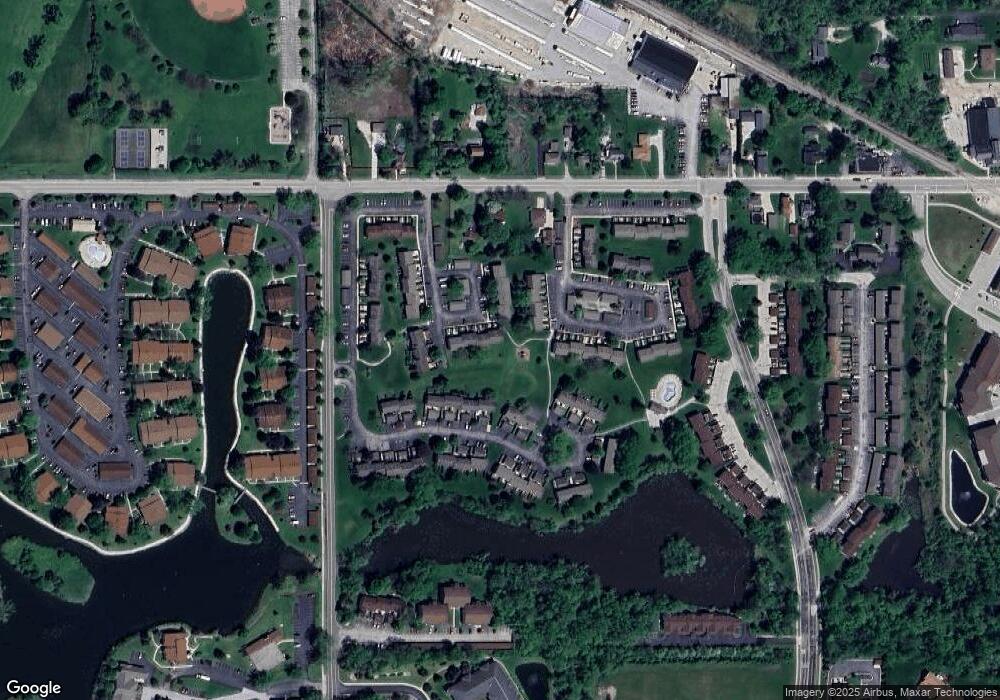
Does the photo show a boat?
No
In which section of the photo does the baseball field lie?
top left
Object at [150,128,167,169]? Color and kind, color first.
white basketball court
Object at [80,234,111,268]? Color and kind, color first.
white swimming pool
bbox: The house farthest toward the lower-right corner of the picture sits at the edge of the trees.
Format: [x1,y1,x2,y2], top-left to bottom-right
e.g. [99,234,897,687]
[913,671,951,700]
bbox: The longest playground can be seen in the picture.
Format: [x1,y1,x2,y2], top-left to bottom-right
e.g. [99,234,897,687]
[270,105,291,144]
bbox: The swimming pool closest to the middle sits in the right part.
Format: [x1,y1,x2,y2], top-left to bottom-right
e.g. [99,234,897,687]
[647,375,683,427]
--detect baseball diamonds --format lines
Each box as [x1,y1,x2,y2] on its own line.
[129,0,277,78]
